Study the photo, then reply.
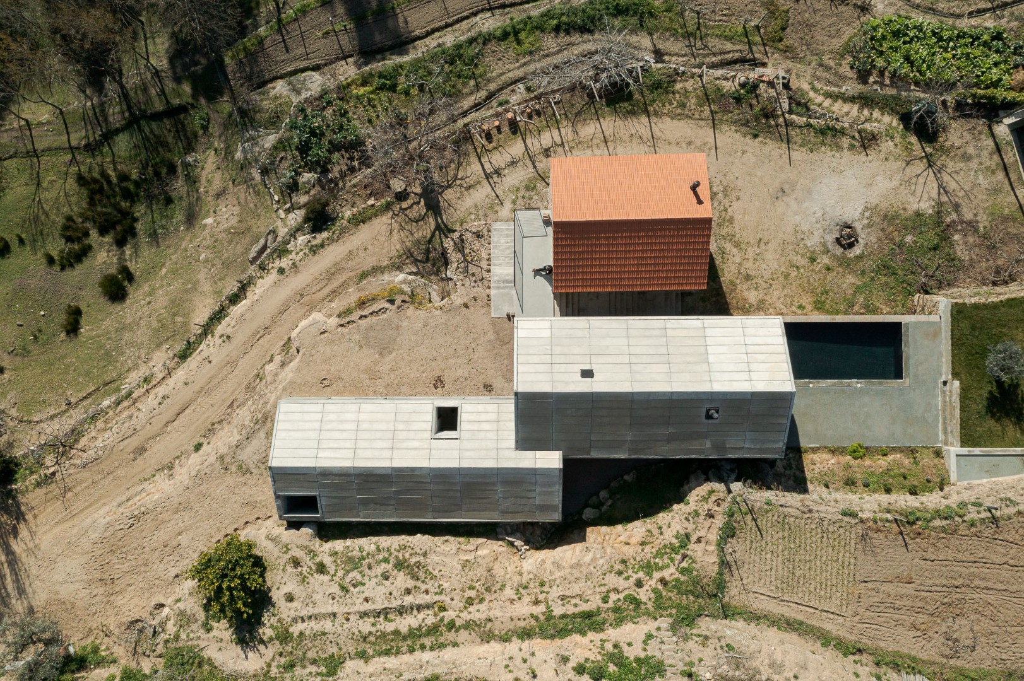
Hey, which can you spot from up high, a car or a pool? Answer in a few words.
pool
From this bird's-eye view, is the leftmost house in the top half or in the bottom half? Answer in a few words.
bottom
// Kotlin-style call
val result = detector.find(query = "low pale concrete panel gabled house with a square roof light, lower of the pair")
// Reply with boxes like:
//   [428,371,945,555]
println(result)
[269,393,563,523]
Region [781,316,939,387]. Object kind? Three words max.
swimming pool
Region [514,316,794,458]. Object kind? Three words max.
house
